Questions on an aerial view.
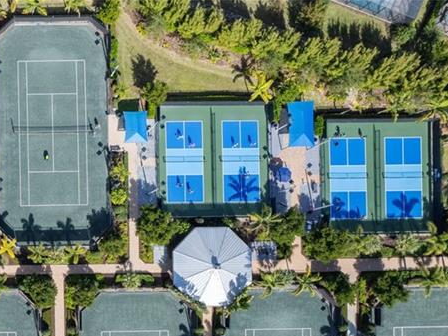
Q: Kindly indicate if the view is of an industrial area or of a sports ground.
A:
sports ground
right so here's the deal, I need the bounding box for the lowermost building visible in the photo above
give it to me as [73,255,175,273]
[170,227,253,306]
